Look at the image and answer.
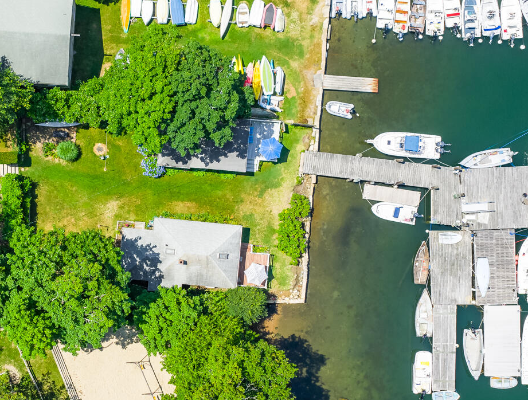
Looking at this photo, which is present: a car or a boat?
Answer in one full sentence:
Of the two, only a boat appears.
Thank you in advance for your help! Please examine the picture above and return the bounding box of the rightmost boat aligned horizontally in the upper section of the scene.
[459,147,524,166]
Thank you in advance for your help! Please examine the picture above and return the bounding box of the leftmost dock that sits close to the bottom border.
[431,304,457,391]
